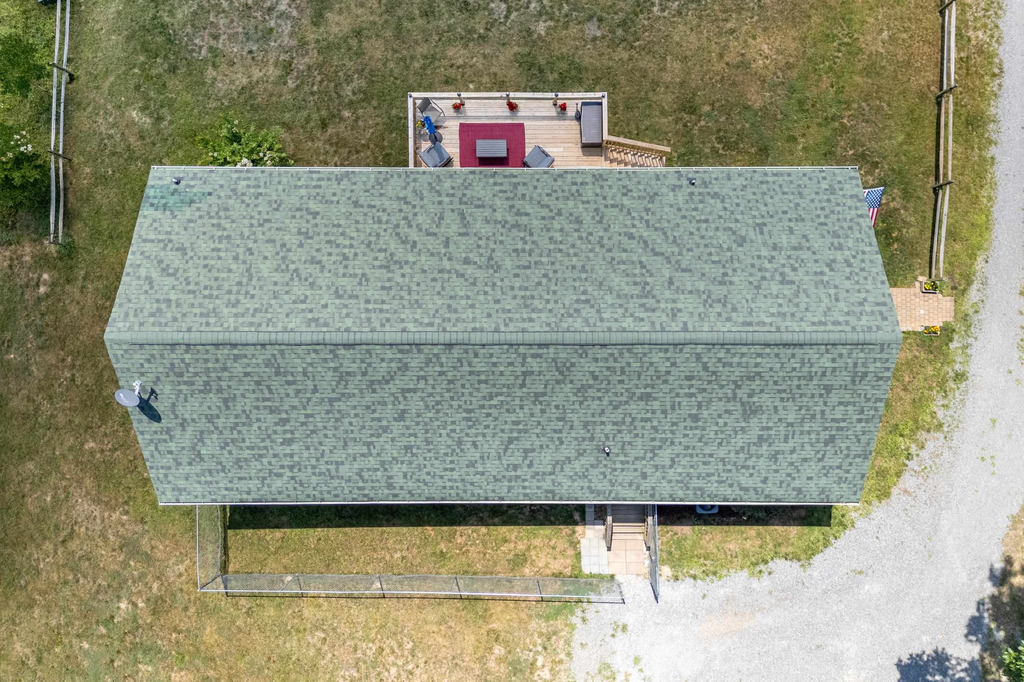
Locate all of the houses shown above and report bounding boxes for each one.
[104,165,903,506]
